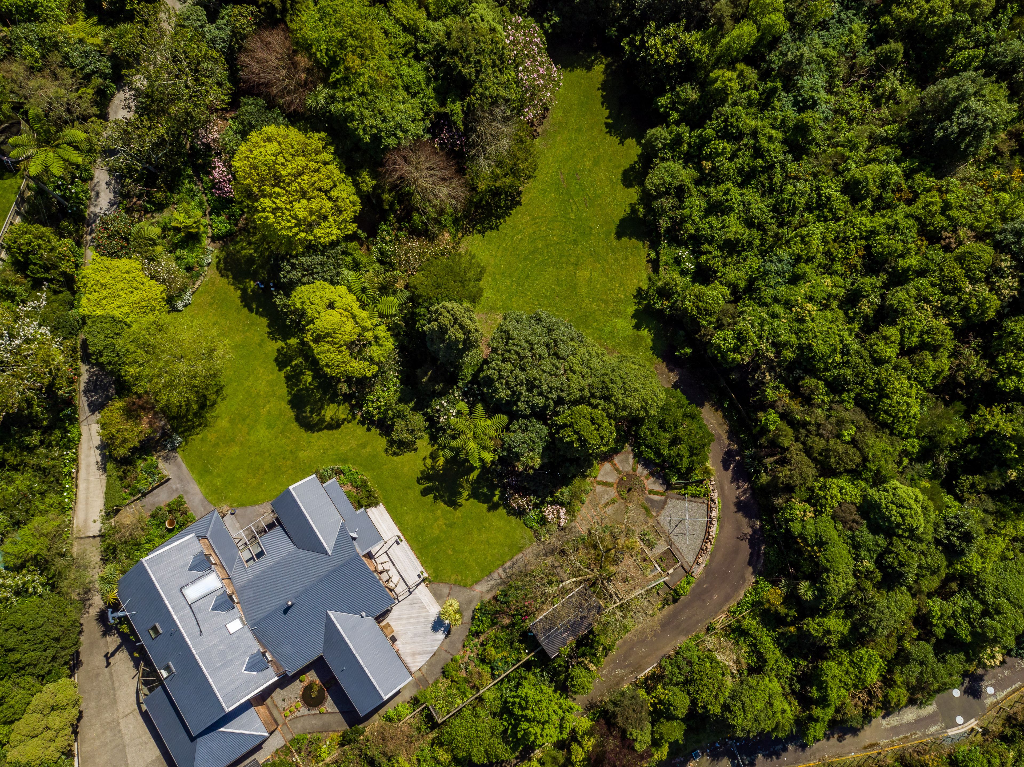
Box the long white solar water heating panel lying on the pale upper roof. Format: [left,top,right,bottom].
[180,570,222,636]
